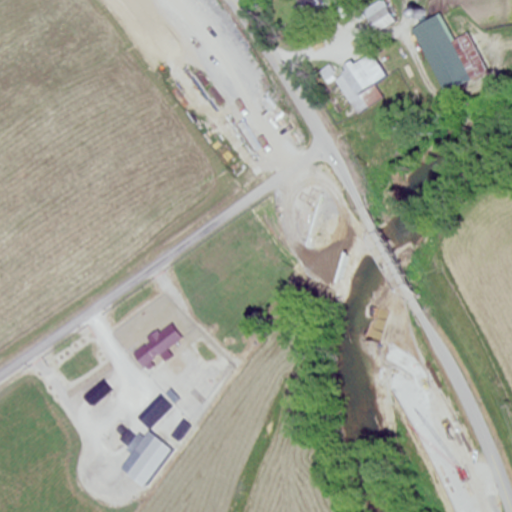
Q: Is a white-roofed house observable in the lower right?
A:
No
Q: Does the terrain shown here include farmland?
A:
Yes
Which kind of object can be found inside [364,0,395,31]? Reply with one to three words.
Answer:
barn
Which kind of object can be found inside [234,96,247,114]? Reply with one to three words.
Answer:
vehicle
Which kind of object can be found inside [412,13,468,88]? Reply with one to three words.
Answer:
building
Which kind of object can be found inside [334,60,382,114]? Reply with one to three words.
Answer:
house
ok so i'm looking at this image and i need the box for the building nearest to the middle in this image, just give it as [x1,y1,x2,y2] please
[135,322,183,368]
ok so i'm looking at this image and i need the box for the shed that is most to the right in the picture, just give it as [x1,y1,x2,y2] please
[454,34,486,78]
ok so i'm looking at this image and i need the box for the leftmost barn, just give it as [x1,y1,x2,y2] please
[84,379,112,406]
